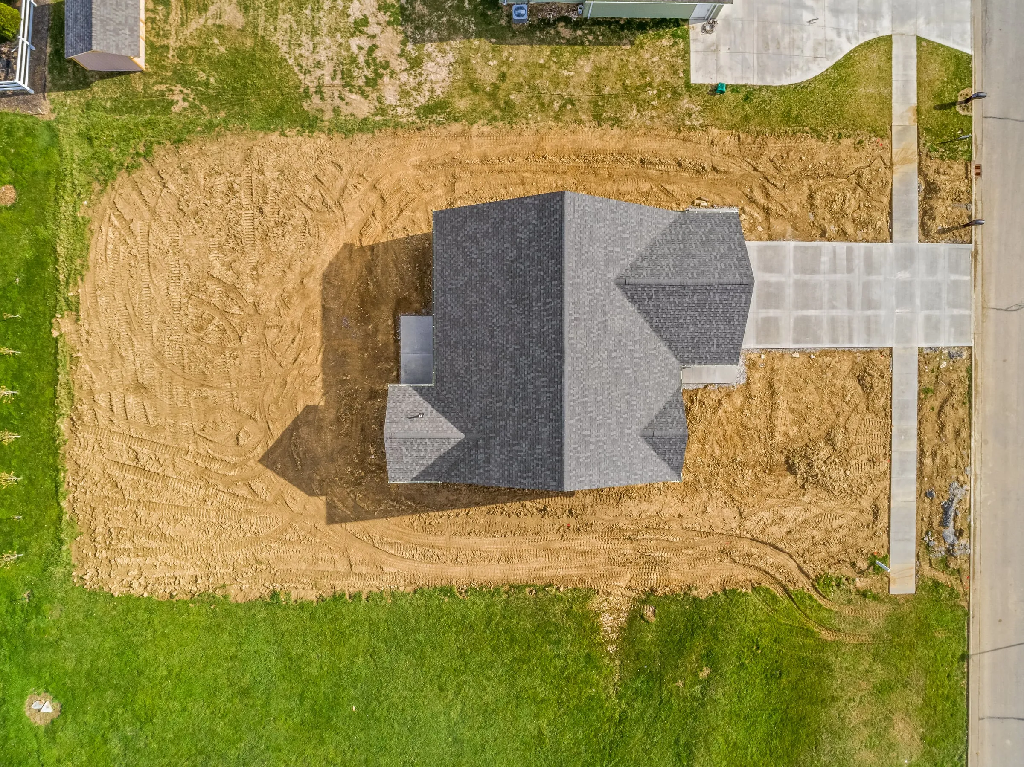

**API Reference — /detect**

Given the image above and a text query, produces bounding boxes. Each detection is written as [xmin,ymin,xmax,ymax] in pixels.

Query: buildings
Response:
[384,189,755,492]
[499,0,733,23]
[65,0,145,71]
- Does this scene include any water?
No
